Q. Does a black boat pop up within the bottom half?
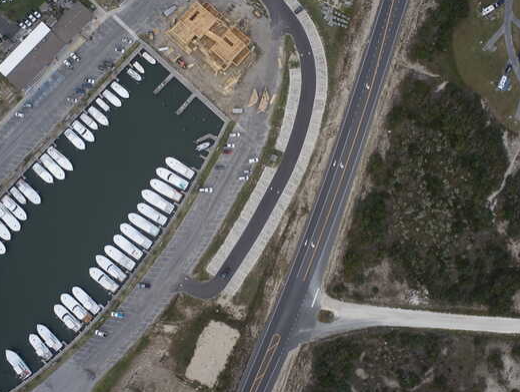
No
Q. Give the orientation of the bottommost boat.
at an angle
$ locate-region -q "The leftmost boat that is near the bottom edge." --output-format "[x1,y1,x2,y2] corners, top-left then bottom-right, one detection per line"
[5,350,32,384]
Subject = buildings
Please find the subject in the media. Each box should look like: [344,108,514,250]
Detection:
[165,0,250,68]
[6,1,91,91]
